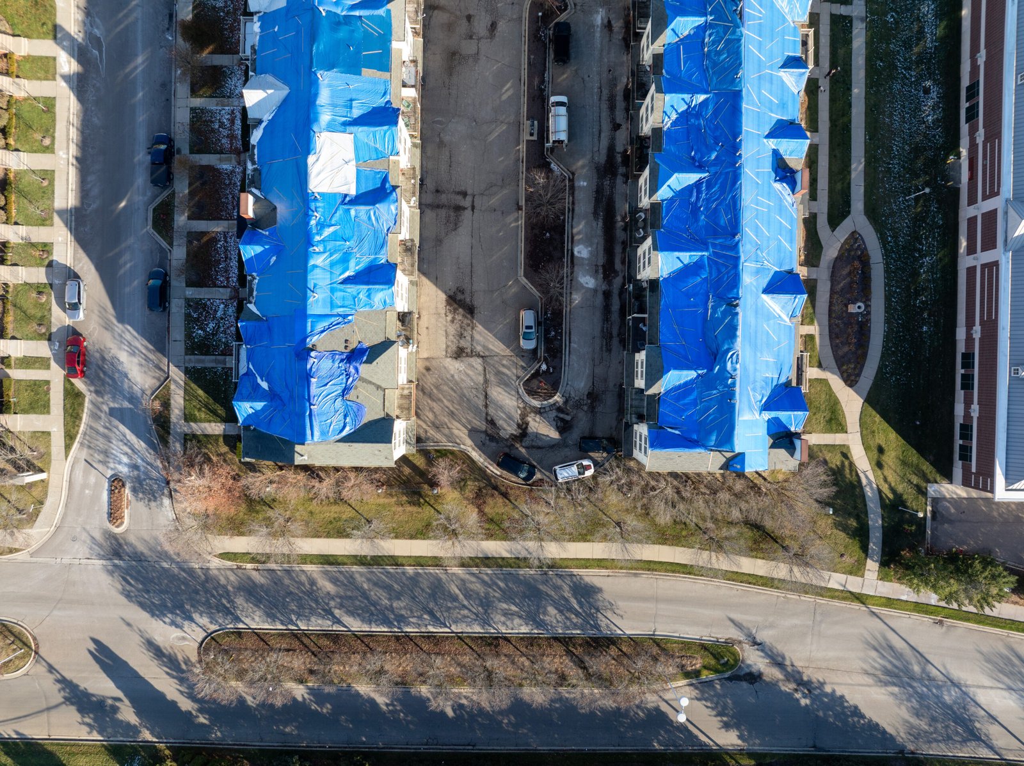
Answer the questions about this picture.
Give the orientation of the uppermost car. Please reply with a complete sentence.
Seen from above, the uppermost car lies from top to bottom.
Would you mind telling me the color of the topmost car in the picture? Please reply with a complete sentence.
The topmost car is black.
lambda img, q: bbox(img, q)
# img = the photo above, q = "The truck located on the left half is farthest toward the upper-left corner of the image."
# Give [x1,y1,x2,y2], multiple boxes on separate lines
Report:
[145,131,170,185]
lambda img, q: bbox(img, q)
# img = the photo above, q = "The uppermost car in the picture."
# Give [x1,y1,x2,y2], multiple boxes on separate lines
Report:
[551,17,573,63]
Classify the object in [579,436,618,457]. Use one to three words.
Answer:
car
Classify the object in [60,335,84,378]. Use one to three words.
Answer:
car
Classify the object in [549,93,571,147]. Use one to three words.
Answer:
truck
